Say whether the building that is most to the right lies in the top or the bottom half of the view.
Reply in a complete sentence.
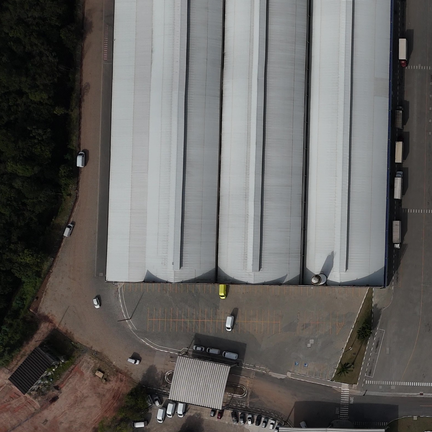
Seen from above, the building that is most to the right lies in the top half of the view.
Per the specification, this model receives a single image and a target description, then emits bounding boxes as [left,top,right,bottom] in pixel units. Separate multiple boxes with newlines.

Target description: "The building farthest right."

[302,0,394,287]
